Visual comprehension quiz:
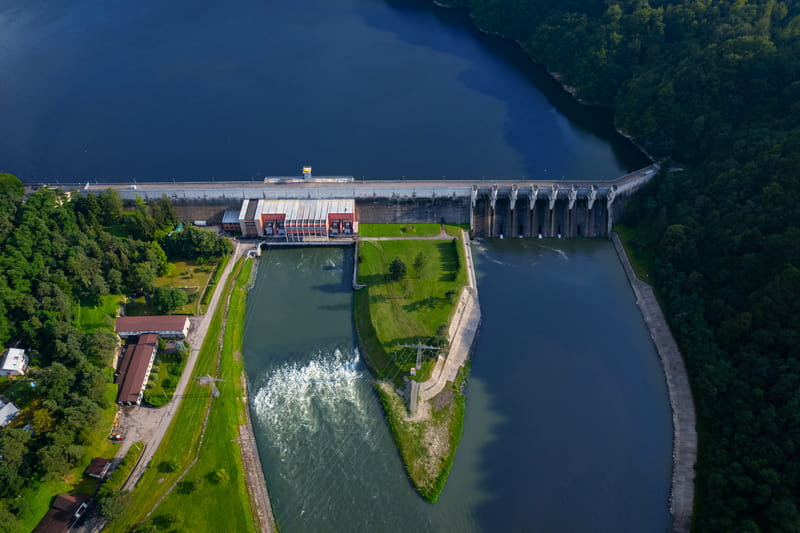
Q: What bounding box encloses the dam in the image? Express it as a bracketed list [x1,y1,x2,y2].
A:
[2,158,661,241]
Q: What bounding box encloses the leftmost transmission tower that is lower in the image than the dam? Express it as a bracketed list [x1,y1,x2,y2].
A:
[192,374,227,398]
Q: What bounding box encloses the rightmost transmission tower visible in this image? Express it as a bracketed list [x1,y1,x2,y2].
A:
[397,342,442,372]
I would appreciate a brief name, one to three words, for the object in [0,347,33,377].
house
